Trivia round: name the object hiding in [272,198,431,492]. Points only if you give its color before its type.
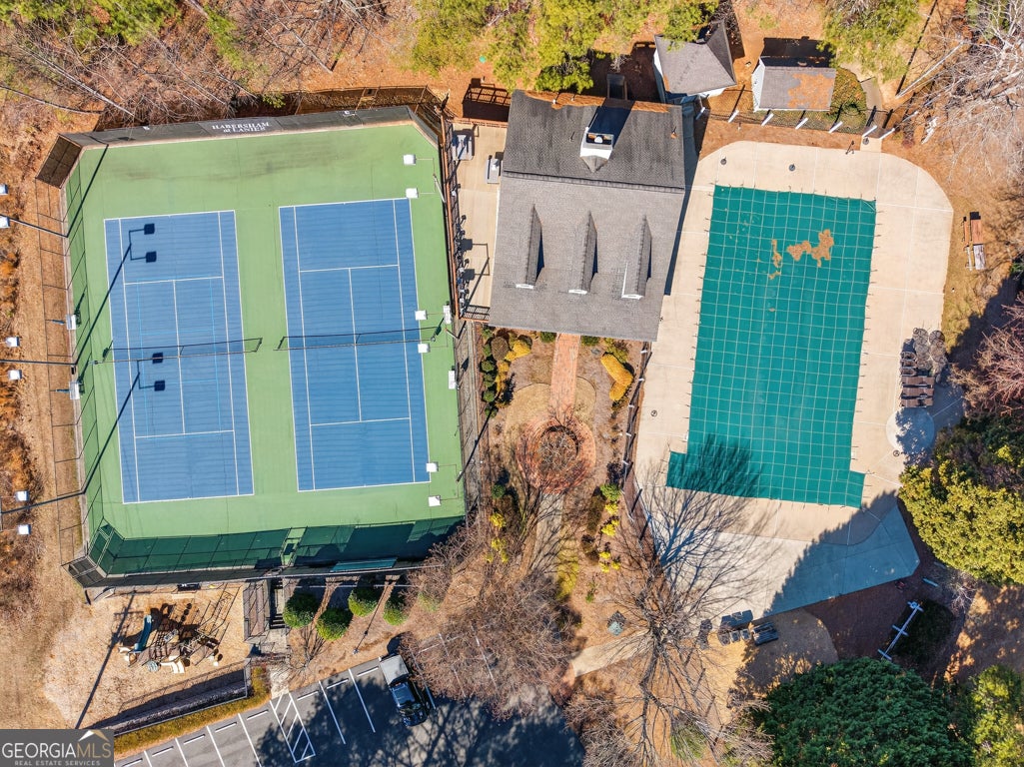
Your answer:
blue tennis court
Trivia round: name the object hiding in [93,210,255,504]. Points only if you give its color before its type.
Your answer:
blue tennis court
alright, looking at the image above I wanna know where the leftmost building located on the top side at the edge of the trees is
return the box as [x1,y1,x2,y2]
[490,63,682,343]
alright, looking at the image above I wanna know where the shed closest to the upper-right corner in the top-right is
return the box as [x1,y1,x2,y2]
[749,57,838,114]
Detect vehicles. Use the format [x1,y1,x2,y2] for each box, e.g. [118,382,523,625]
[378,649,427,725]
